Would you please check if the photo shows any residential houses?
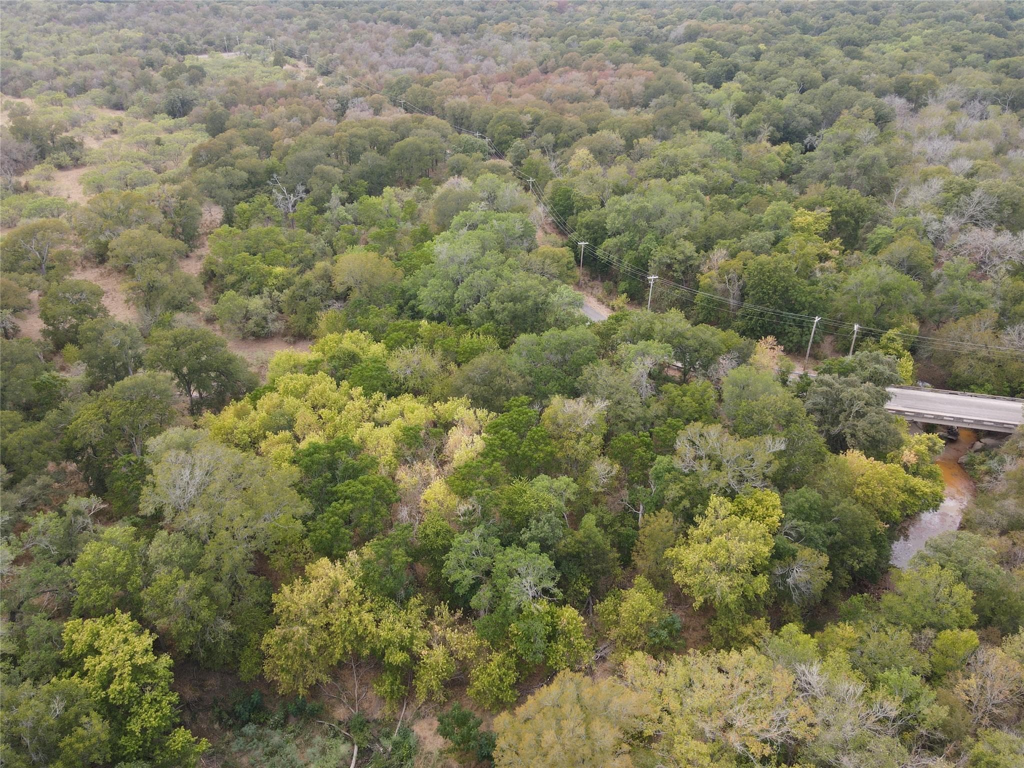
No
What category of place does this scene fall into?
forest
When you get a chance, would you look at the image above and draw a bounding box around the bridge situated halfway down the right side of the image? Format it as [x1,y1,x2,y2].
[887,381,1024,453]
